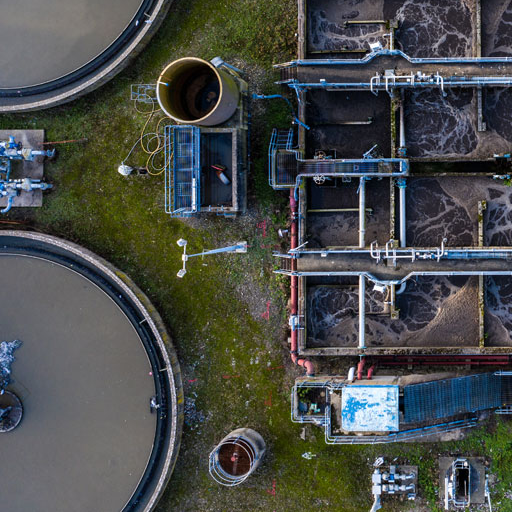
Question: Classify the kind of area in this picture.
industrial area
